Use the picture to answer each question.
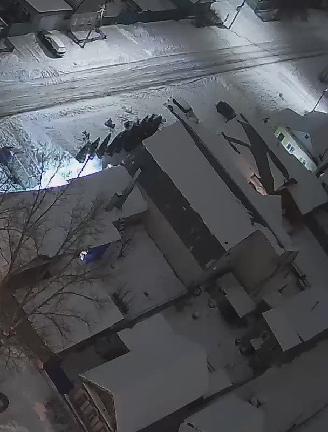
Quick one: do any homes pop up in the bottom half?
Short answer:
Yes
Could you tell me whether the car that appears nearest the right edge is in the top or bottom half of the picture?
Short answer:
top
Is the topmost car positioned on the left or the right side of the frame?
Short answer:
left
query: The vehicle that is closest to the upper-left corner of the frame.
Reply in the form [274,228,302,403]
[39,29,68,56]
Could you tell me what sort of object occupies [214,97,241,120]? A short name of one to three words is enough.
car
